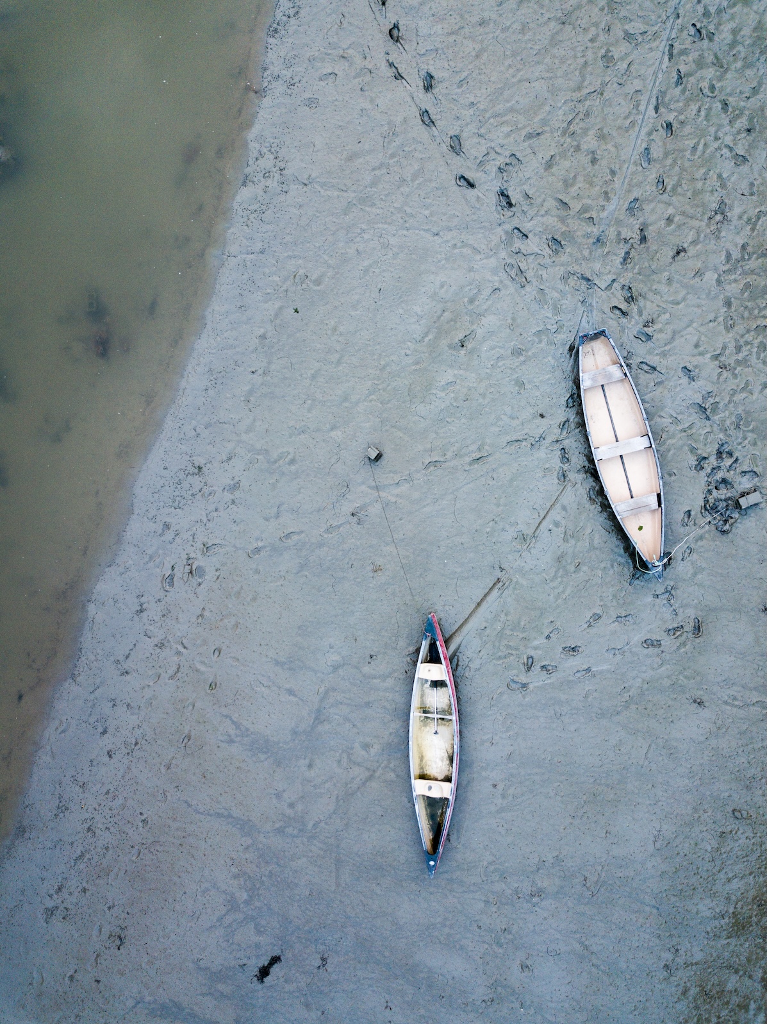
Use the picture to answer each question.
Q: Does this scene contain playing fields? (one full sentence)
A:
No, this view has no playing field in it.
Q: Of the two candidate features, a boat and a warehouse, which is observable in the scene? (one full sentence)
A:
There is a boat in the scene.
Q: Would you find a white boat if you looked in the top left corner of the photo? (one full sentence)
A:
No, I see no white boat in the top left corner of the photo.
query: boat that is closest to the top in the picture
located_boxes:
[579,326,667,583]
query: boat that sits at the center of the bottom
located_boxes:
[408,615,456,882]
